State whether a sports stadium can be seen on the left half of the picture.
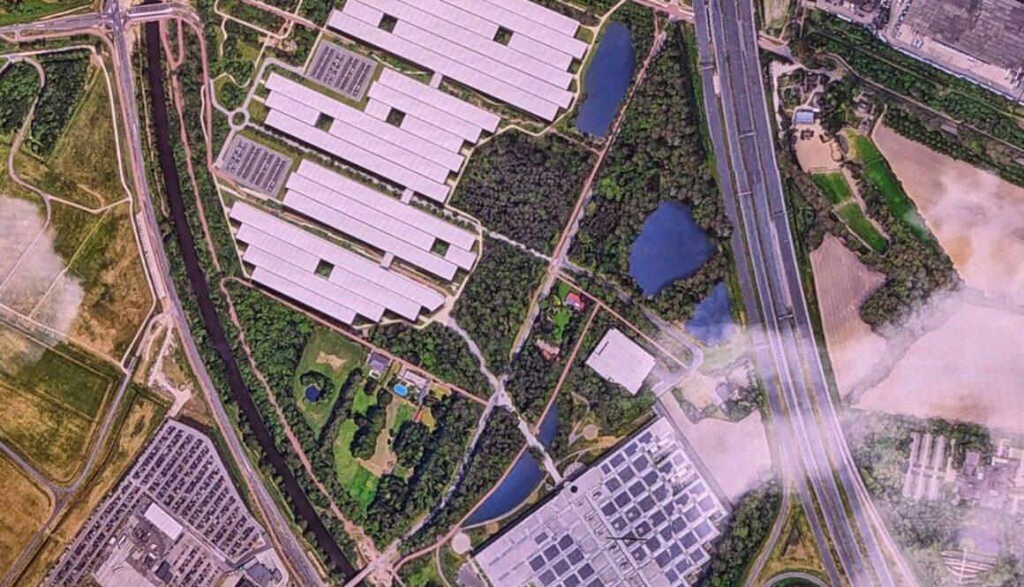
No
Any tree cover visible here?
Yes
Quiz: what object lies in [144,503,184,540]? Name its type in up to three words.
building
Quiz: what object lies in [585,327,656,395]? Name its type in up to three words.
building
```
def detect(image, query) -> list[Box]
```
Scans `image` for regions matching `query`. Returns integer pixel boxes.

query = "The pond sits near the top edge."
[576,21,634,136]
